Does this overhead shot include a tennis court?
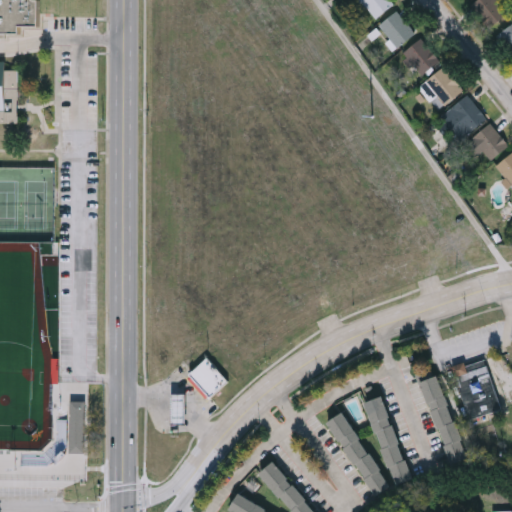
Yes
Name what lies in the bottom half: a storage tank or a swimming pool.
swimming pool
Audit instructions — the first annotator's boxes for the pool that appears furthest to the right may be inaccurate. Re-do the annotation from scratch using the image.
[490,182,507,208]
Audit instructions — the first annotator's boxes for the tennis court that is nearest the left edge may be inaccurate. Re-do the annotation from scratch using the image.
[0,166,22,242]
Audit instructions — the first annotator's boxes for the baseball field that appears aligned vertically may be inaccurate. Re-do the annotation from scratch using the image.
[0,244,52,449]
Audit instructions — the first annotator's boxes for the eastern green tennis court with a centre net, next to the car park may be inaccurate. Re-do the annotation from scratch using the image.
[22,166,54,242]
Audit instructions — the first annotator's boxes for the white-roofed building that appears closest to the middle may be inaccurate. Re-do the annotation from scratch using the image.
[188,358,229,400]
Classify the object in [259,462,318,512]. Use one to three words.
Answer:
building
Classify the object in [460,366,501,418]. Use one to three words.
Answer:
house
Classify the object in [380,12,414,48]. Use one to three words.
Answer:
house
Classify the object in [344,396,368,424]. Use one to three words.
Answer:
swimming pool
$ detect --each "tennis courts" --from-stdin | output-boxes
[0,166,22,242]
[22,166,54,242]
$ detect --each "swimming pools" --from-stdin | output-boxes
[490,182,507,208]
[344,396,368,424]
